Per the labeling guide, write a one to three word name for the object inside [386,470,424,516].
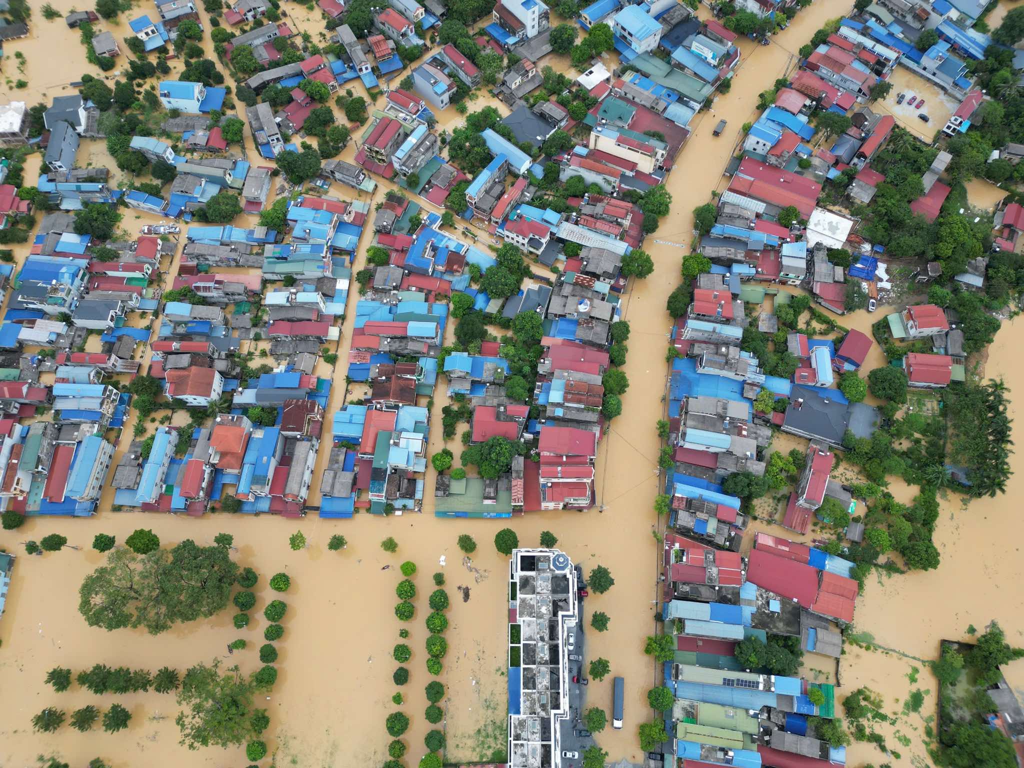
house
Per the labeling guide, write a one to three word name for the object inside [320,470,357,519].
house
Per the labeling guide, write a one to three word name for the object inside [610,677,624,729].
vehicle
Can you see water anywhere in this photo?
Yes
